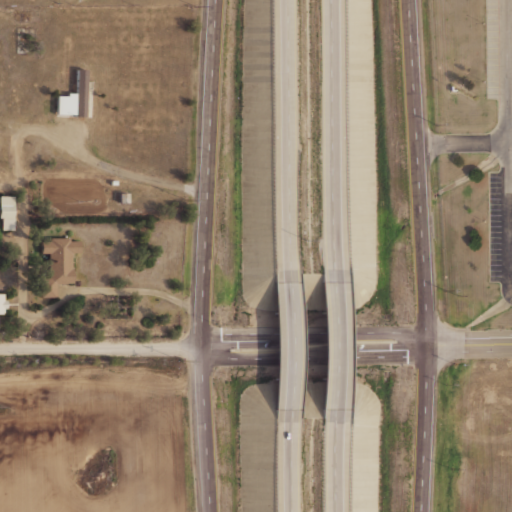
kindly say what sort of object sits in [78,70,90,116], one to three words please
barn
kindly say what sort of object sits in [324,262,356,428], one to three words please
overpass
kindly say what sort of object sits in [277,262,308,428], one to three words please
overpass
